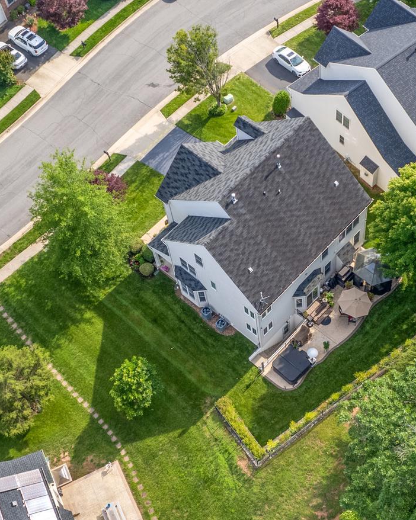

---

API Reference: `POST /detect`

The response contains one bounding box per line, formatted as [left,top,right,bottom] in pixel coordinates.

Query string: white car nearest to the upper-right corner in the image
[271,46,311,78]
